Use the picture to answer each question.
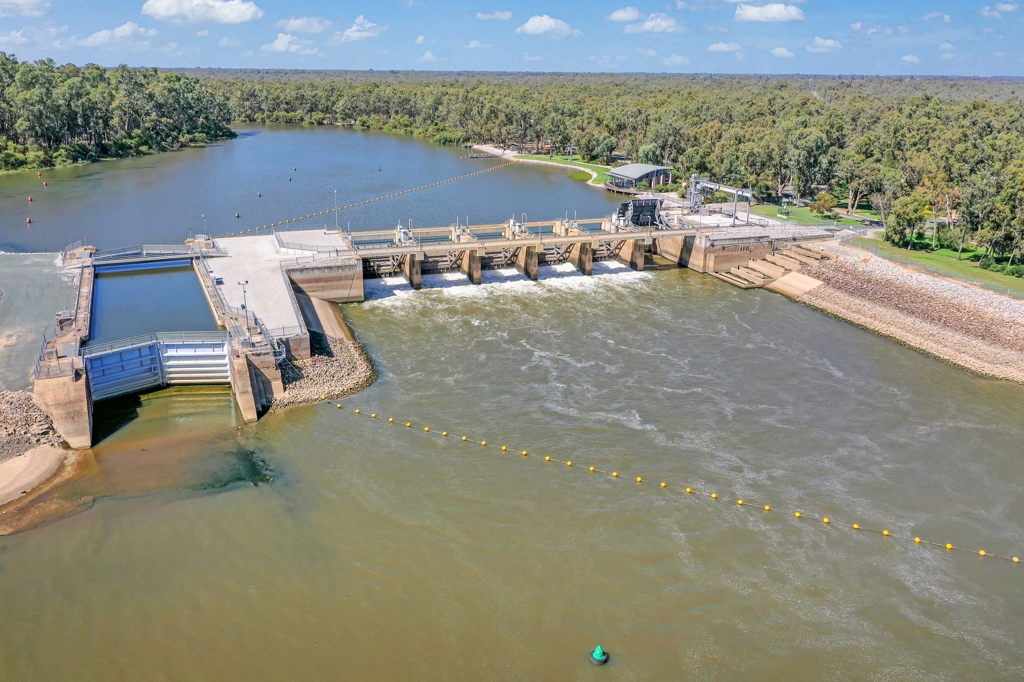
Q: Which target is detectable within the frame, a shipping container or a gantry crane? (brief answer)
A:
gantry crane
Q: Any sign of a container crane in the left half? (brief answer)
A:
No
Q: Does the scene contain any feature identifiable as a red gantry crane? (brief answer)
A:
No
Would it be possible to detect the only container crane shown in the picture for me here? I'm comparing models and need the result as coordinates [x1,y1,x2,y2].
[681,166,755,225]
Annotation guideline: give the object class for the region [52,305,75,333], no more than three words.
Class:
shed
